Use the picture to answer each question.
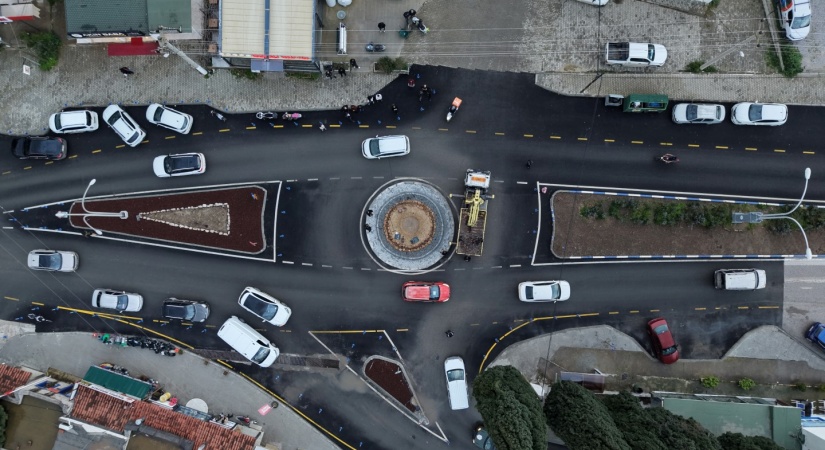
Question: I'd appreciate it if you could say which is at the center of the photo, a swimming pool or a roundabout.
roundabout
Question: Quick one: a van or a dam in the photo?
van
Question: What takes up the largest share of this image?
paved ground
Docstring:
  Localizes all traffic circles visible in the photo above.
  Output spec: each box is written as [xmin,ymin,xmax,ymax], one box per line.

[361,177,458,275]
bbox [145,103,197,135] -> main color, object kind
white car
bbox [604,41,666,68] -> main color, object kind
white truck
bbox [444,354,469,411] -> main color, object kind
white car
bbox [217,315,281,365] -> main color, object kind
white van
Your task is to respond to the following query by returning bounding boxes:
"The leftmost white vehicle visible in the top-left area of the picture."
[50,109,102,133]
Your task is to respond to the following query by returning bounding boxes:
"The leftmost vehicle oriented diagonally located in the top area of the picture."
[104,103,149,149]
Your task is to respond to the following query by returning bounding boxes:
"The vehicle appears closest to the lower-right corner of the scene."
[805,319,825,350]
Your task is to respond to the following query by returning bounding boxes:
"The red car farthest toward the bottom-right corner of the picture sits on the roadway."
[646,315,679,365]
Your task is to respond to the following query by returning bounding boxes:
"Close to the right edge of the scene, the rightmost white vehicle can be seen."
[780,0,815,43]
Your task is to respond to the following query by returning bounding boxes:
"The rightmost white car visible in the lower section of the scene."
[713,268,765,291]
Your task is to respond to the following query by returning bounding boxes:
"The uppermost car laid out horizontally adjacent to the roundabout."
[361,135,411,159]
